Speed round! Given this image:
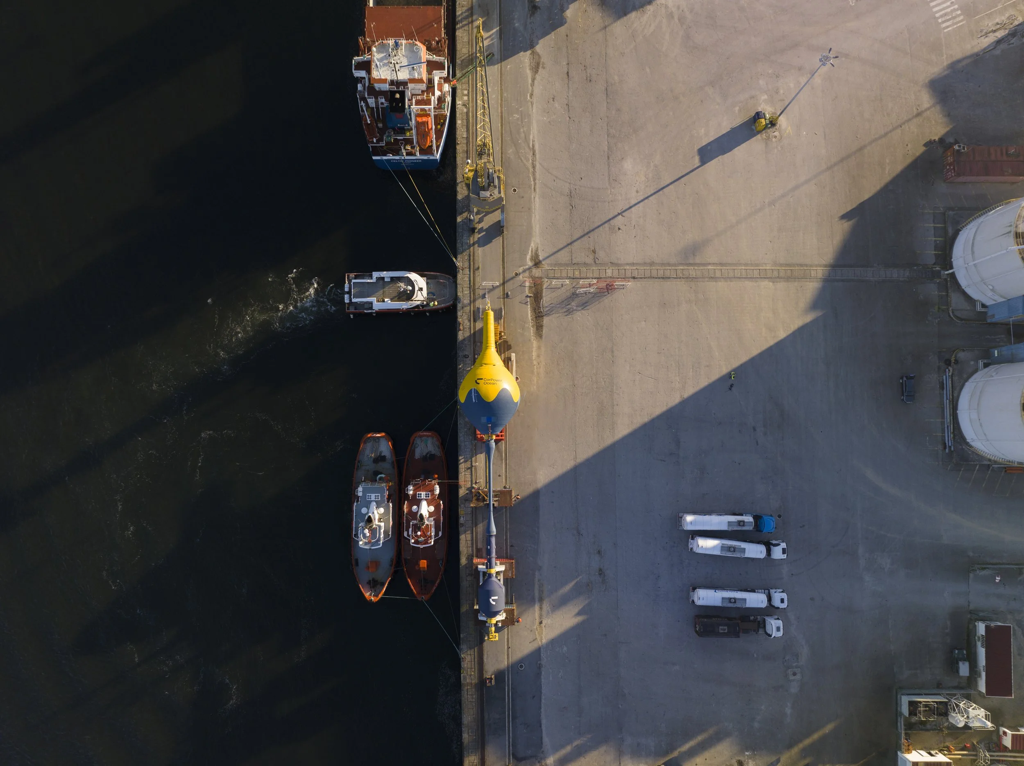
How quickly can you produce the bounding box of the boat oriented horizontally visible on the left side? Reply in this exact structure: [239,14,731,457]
[345,271,455,316]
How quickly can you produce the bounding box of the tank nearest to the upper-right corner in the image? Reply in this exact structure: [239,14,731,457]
[945,189,1024,304]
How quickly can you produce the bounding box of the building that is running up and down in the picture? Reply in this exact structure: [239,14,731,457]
[976,622,1015,698]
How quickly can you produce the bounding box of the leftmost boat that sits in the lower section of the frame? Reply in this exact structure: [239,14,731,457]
[352,432,400,603]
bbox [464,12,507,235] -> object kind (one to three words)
crane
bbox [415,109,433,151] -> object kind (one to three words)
boat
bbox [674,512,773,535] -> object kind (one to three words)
truck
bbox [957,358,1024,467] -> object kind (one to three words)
storage tank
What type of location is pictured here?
port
